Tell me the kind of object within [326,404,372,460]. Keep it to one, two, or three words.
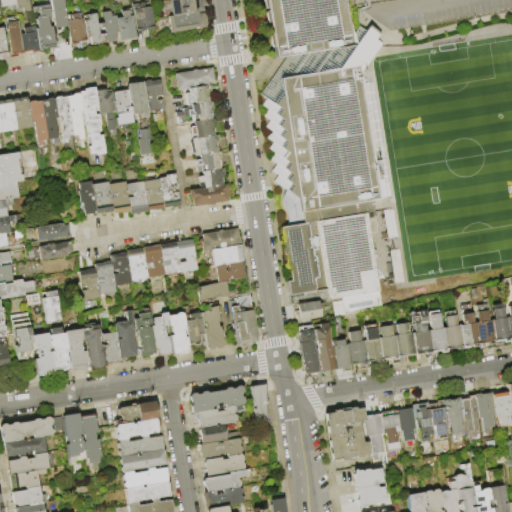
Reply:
building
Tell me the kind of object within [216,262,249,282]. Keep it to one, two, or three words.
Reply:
building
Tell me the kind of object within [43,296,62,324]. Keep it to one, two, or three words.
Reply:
house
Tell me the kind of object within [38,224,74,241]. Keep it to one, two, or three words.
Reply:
house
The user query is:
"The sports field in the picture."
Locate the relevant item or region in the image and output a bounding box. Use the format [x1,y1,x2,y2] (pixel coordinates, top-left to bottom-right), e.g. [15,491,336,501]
[375,34,512,282]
